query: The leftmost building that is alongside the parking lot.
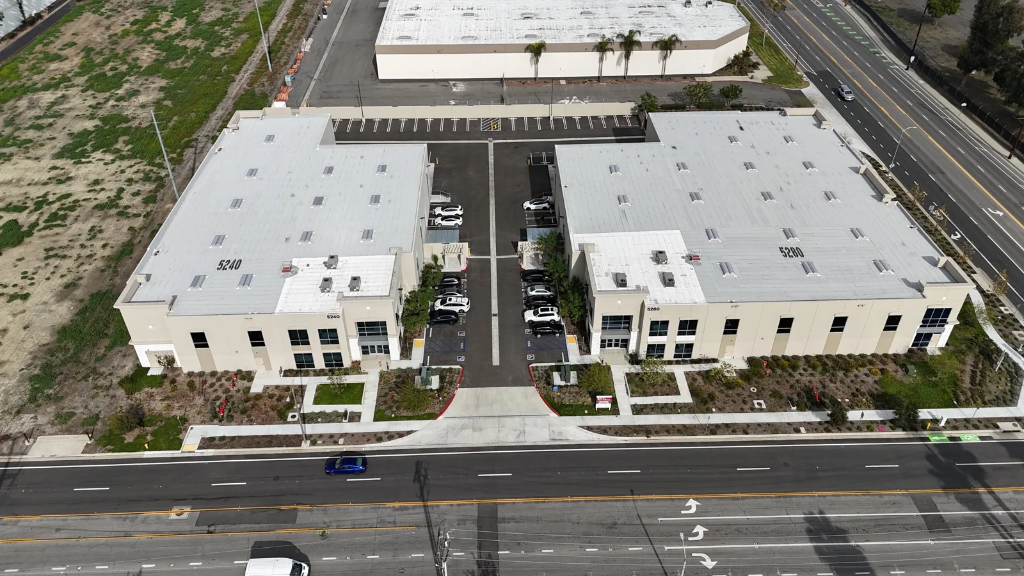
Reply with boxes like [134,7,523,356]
[112,112,432,372]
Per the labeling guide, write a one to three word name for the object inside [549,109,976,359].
building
